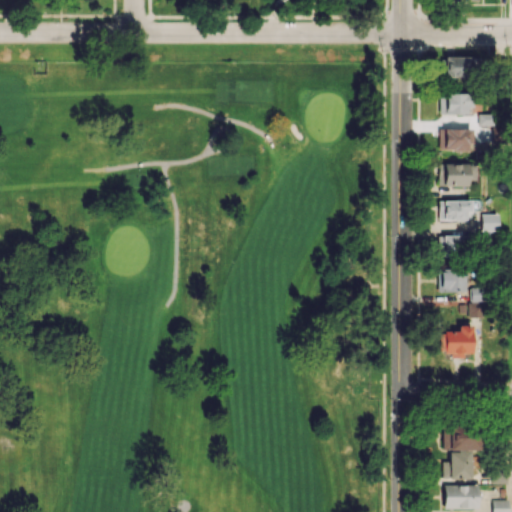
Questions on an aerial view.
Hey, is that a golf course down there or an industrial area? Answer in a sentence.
This image shows a golf course.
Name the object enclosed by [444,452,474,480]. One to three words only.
house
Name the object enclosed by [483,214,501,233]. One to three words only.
building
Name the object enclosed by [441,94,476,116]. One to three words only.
house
